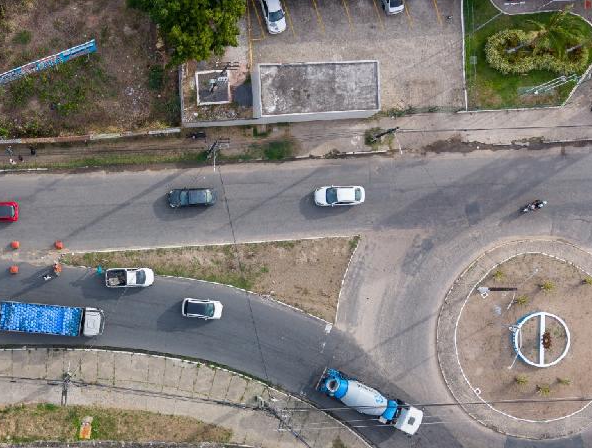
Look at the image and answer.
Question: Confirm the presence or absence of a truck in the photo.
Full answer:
Yes, the image includes a truck.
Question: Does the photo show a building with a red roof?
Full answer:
No, the scene contains no building with a red roof.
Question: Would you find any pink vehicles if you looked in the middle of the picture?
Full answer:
No, there's no pink vehicle to be seen in the middle of the picture.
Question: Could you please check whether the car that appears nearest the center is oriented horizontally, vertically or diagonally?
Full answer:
In this picture, the car that appears nearest the center is oriented horizontally.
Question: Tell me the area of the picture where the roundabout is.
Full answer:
The roundabout is in the bottom right part of the image.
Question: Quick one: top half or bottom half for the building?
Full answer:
Seen from above, the building lies in the top half of the view.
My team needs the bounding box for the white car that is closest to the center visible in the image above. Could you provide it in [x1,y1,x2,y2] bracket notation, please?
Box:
[313,184,364,207]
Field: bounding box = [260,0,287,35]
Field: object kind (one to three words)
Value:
car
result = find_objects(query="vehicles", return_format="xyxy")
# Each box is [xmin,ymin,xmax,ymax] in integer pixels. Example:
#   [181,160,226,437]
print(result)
[167,185,214,208]
[188,131,207,138]
[260,0,287,35]
[383,0,405,16]
[0,202,19,222]
[522,202,545,212]
[314,366,422,438]
[182,298,222,320]
[0,301,109,339]
[106,266,153,289]
[313,184,364,207]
